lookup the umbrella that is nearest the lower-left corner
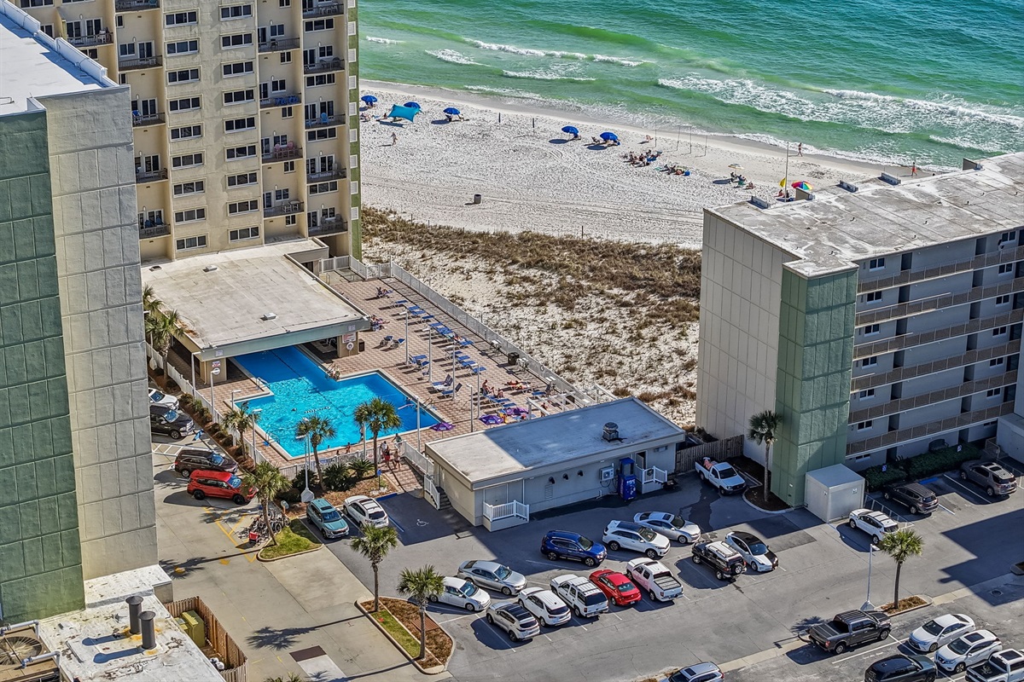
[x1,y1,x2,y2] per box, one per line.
[431,416,455,428]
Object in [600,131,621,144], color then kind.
blue umbrella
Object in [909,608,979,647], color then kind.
white car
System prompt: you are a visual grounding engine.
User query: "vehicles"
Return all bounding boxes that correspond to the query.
[188,470,260,503]
[878,479,940,515]
[723,528,775,568]
[843,507,902,542]
[149,409,192,442]
[589,568,640,607]
[173,446,241,476]
[147,380,187,411]
[959,645,1024,682]
[342,491,390,527]
[655,664,723,682]
[856,647,938,682]
[424,575,493,610]
[692,457,749,493]
[460,559,532,593]
[909,608,979,647]
[623,556,682,602]
[305,497,350,538]
[934,625,1008,669]
[537,528,609,566]
[483,601,544,644]
[599,519,672,558]
[951,458,1017,496]
[632,508,701,540]
[550,573,609,619]
[515,586,572,628]
[815,611,898,656]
